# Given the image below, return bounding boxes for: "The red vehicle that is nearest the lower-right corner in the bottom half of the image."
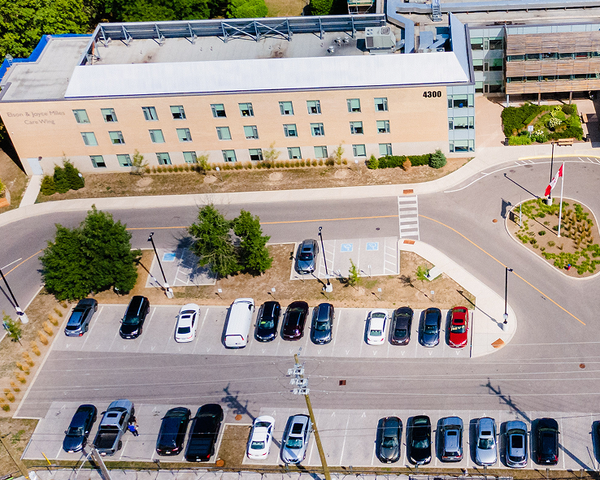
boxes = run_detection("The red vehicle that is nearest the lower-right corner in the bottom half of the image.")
[446,308,470,349]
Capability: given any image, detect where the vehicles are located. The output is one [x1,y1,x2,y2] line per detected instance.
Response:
[533,419,560,469]
[502,421,527,468]
[253,301,282,342]
[472,417,499,469]
[375,416,403,467]
[418,308,442,349]
[182,404,225,465]
[294,240,319,274]
[89,398,137,458]
[405,416,432,467]
[61,404,102,454]
[117,294,154,340]
[220,301,258,348]
[280,301,308,342]
[446,308,470,349]
[245,416,278,465]
[437,417,464,467]
[390,308,414,348]
[152,407,193,460]
[61,301,100,338]
[171,306,203,344]
[364,310,389,349]
[309,302,336,343]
